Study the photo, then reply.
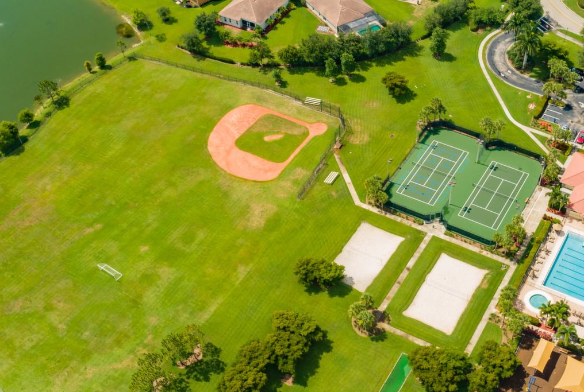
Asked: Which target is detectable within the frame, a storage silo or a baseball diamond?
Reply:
baseball diamond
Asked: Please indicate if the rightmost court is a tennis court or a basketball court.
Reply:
tennis court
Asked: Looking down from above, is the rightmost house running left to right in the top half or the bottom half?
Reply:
top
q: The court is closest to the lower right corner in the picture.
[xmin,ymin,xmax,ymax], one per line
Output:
[403,253,489,335]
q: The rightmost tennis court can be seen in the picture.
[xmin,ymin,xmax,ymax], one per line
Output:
[458,162,529,230]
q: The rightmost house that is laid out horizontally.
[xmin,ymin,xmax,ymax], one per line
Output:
[305,0,391,43]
